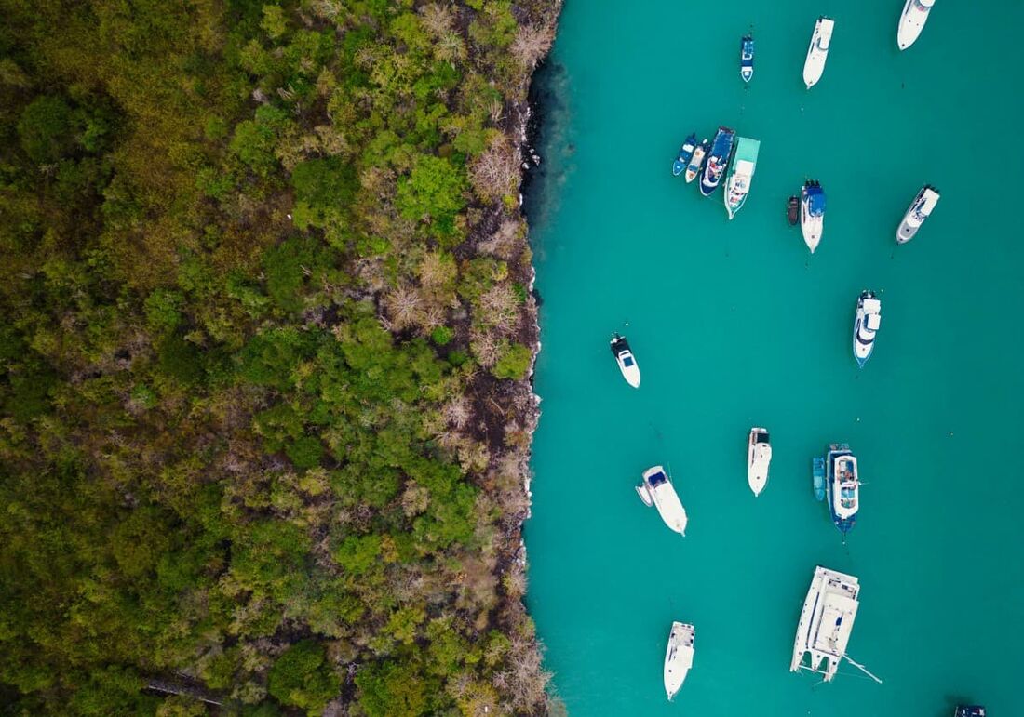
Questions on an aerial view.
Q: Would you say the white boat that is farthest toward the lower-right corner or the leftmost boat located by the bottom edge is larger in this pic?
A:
the white boat that is farthest toward the lower-right corner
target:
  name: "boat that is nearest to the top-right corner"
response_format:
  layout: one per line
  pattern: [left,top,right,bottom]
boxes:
[898,0,934,50]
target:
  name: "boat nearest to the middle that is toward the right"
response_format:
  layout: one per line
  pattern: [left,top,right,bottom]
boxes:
[610,332,640,387]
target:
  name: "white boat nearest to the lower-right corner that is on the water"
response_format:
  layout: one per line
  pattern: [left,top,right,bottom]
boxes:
[788,565,882,690]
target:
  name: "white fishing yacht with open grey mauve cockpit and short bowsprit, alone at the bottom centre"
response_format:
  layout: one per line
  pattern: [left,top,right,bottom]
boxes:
[664,620,694,702]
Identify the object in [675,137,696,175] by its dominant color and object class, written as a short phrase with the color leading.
blue boat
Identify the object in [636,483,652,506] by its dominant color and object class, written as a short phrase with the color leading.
white boat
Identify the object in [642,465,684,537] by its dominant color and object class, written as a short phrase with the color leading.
white boat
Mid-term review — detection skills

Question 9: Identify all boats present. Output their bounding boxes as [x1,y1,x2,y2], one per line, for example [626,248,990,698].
[636,483,652,506]
[703,125,736,196]
[788,565,882,690]
[747,424,768,497]
[806,14,835,90]
[741,34,755,82]
[664,620,694,702]
[686,142,705,183]
[786,194,799,226]
[812,455,825,501]
[610,332,640,387]
[854,293,881,370]
[896,184,944,245]
[800,181,825,254]
[898,0,934,50]
[952,700,985,717]
[675,137,696,175]
[725,137,758,221]
[822,445,862,541]
[642,465,684,537]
